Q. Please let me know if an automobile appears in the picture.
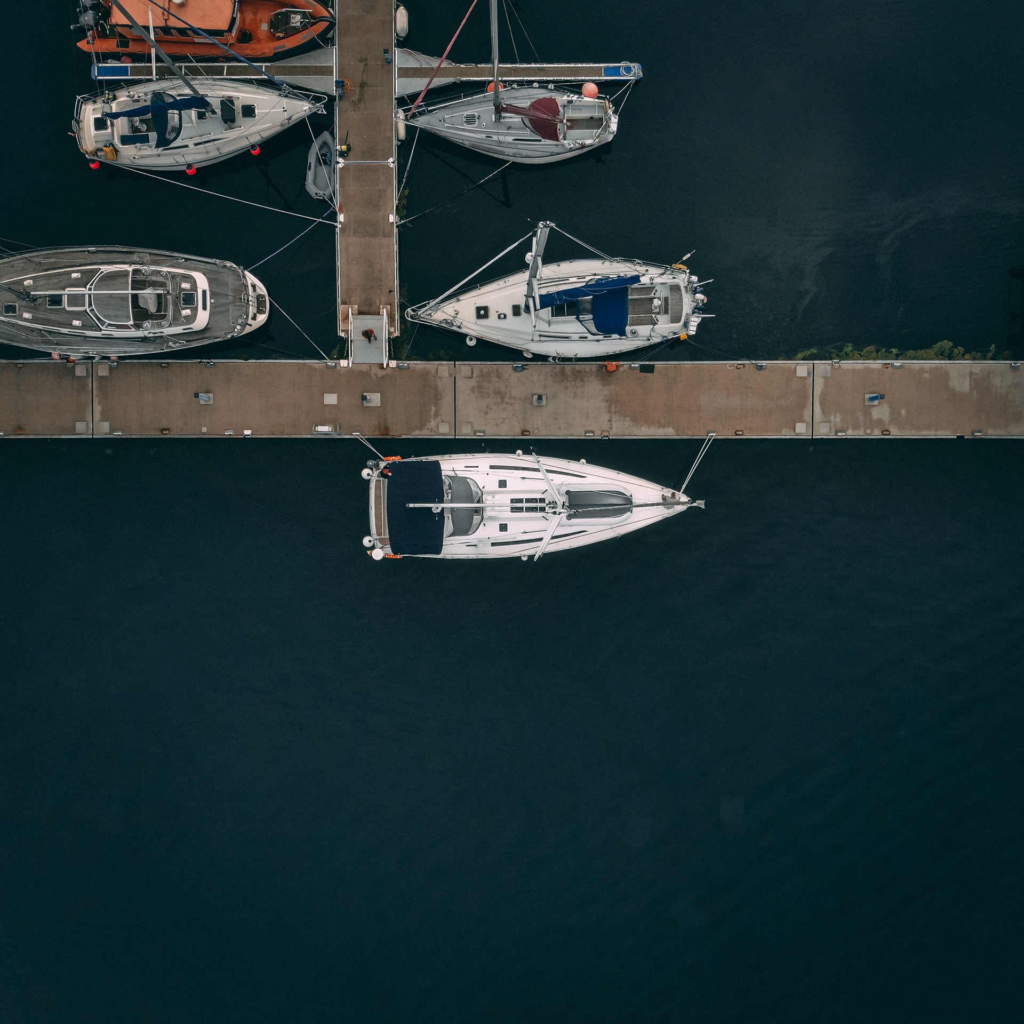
No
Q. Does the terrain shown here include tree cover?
No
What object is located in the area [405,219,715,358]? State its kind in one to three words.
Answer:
boat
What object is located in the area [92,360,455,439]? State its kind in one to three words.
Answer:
pier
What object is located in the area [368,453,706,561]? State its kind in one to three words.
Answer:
boat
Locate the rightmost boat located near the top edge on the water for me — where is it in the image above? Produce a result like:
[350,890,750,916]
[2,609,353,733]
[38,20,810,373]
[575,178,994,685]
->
[393,0,618,161]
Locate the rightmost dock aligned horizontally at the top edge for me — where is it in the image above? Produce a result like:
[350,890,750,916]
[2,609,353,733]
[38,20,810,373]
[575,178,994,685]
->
[396,47,642,98]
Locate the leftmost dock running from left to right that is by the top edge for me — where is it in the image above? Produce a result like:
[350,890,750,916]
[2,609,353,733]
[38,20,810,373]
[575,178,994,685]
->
[92,46,336,97]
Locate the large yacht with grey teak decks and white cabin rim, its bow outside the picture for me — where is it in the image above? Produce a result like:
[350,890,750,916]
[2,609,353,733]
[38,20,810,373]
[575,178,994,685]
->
[0,243,270,357]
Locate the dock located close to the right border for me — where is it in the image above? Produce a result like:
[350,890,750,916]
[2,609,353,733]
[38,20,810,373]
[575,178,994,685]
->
[811,360,1024,439]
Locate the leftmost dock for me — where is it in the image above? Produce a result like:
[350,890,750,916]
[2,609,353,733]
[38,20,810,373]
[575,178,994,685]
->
[0,361,95,439]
